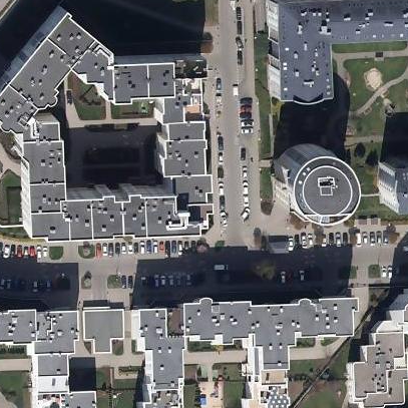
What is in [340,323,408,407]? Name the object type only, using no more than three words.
building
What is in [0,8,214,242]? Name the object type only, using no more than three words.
building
